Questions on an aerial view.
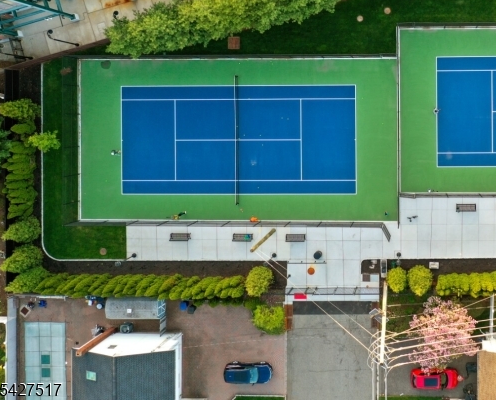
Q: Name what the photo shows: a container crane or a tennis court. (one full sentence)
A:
The image shows a tennis court.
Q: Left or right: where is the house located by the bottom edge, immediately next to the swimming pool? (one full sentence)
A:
You can find the house located by the bottom edge, immediately next to the swimming pool on the left side of the picture.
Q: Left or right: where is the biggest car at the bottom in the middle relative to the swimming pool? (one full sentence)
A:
Compared with the swimming pool, the biggest car at the bottom in the middle is located further to the right.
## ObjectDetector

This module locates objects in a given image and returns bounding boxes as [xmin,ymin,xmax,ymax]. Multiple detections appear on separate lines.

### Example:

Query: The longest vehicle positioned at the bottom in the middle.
[222,362,272,388]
